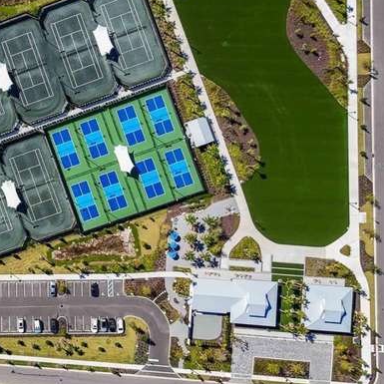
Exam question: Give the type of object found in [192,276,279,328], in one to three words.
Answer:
building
